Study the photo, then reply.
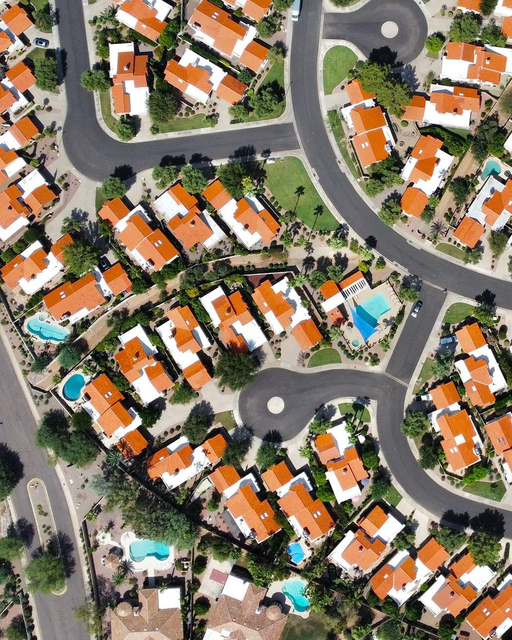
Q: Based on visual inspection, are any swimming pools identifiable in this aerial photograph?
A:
Yes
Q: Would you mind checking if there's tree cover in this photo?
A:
Yes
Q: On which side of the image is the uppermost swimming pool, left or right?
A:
right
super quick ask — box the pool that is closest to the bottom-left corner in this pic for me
[129,539,171,565]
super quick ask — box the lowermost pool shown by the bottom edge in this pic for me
[281,580,311,613]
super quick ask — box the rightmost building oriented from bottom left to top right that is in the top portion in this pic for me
[455,175,512,246]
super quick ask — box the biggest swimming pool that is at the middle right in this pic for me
[353,292,392,329]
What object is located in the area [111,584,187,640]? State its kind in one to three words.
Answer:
house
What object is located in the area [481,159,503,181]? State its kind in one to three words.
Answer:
swimming pool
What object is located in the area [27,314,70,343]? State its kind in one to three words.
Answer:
swimming pool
